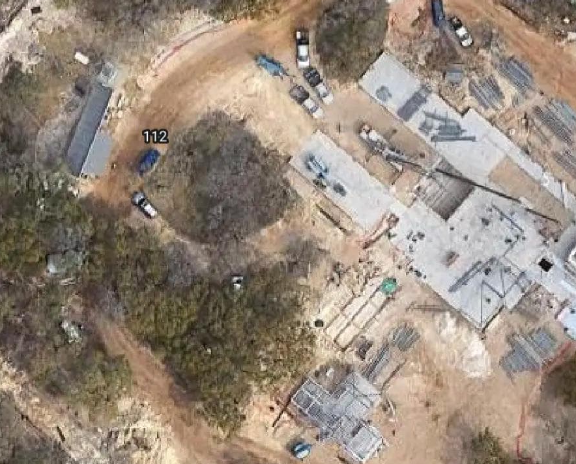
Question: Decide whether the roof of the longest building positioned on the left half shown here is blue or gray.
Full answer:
From above, the roof of the longest building positioned on the left half appears gray.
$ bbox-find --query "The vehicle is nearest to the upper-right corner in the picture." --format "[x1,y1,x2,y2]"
[447,13,473,48]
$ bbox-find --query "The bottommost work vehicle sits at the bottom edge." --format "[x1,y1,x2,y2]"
[294,440,314,459]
